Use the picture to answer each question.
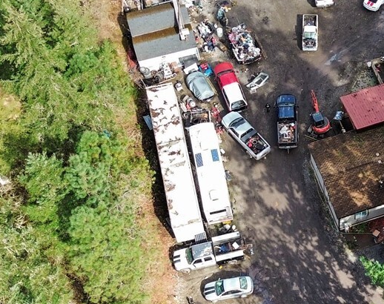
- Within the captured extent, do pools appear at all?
No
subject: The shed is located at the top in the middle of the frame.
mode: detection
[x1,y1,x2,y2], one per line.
[121,0,199,75]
